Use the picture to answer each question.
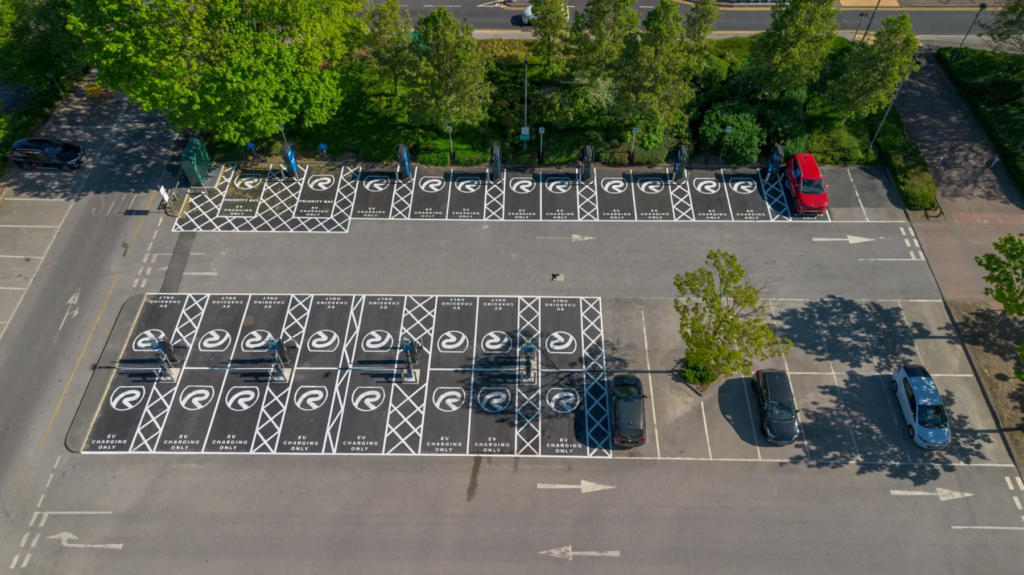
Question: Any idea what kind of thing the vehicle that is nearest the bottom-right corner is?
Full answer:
It turns out the vehicle that is nearest the bottom-right corner is an automobile.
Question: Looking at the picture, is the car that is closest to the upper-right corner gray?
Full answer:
No, the car that is closest to the upper-right corner is actually red.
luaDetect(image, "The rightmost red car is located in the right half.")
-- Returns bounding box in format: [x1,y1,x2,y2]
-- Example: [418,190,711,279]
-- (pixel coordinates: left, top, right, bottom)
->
[788,153,832,209]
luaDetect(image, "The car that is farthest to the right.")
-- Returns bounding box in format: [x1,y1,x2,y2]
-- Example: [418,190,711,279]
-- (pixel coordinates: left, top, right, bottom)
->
[896,369,961,450]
